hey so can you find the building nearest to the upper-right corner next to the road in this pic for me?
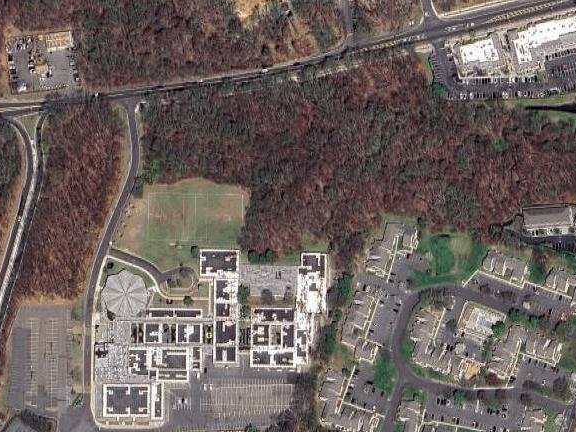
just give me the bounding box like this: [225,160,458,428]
[507,17,576,69]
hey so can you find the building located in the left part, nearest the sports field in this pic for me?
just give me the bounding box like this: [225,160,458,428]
[94,249,328,421]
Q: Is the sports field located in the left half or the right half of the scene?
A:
left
